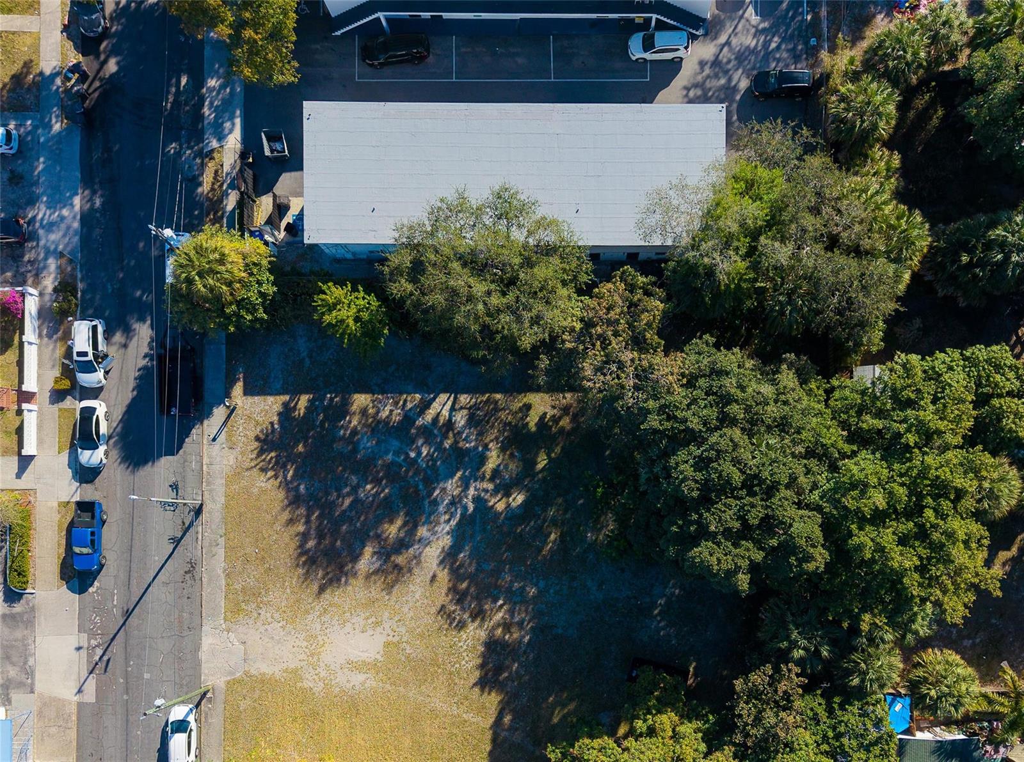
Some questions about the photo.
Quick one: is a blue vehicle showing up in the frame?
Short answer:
Yes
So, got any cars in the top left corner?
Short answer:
Yes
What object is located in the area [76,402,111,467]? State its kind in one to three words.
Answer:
car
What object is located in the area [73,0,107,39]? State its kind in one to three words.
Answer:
car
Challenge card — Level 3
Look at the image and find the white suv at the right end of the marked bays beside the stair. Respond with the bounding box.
[627,28,691,63]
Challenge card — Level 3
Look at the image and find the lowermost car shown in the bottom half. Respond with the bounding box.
[166,703,201,762]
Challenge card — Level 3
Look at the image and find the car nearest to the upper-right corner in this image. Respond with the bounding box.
[747,65,815,100]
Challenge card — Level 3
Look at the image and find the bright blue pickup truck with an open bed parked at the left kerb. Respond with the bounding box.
[70,499,107,570]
